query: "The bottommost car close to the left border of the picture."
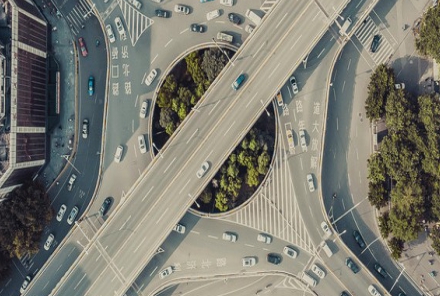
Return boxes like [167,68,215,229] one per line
[17,276,31,293]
